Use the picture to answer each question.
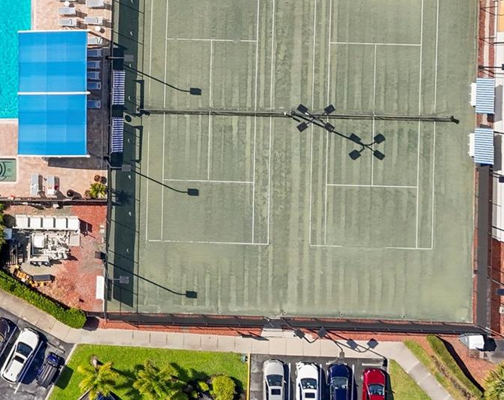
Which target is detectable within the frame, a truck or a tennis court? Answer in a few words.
tennis court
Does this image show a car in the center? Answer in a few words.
No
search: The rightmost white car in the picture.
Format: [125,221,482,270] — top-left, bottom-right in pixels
[295,360,322,400]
